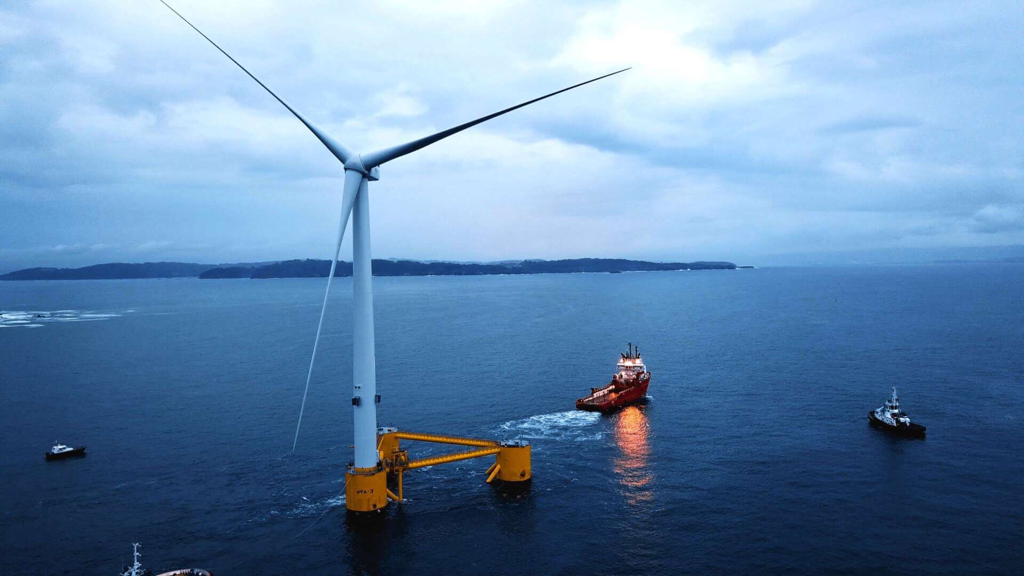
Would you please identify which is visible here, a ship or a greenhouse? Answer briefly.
ship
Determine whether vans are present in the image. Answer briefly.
No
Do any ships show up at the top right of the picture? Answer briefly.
No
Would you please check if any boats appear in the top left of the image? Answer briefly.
No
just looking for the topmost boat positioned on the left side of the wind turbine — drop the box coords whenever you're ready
[46,446,87,460]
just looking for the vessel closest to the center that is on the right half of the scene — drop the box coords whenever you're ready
[579,340,653,412]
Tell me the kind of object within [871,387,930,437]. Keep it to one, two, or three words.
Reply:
boat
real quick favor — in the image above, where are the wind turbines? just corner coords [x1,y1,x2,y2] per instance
[159,0,628,471]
